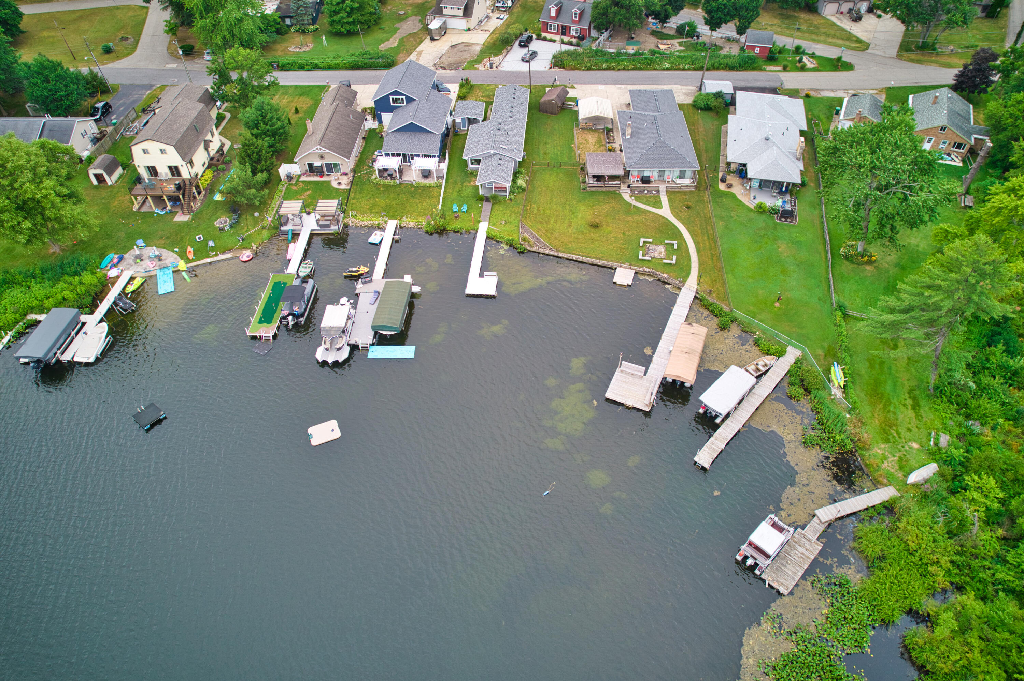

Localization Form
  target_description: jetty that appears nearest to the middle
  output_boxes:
[465,232,497,297]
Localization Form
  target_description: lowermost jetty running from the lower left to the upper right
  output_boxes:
[760,517,829,599]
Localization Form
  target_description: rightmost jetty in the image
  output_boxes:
[814,486,900,523]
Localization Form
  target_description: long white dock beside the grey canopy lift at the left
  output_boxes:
[59,273,131,365]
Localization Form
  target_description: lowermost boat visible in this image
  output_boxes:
[741,512,794,573]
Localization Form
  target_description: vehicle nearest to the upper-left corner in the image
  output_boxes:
[89,100,111,119]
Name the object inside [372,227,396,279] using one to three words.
pier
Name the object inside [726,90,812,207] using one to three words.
house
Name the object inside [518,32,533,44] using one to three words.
vehicle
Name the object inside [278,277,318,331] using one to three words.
boat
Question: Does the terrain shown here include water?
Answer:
Yes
